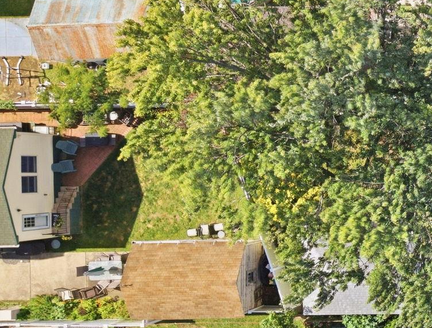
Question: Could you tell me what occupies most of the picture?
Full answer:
The scene is dominated by trees.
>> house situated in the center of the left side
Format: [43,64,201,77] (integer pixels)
[0,127,84,247]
